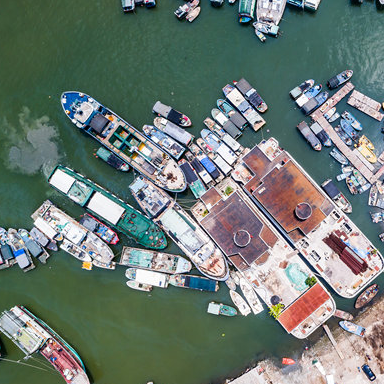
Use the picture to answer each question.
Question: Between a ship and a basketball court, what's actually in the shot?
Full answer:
The image shows a ship.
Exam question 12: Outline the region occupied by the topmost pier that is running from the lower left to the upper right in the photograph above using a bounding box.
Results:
[305,82,355,121]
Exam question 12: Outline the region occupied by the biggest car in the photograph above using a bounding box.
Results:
[360,363,376,380]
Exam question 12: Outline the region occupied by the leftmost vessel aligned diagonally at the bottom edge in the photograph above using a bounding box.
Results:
[0,306,93,384]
